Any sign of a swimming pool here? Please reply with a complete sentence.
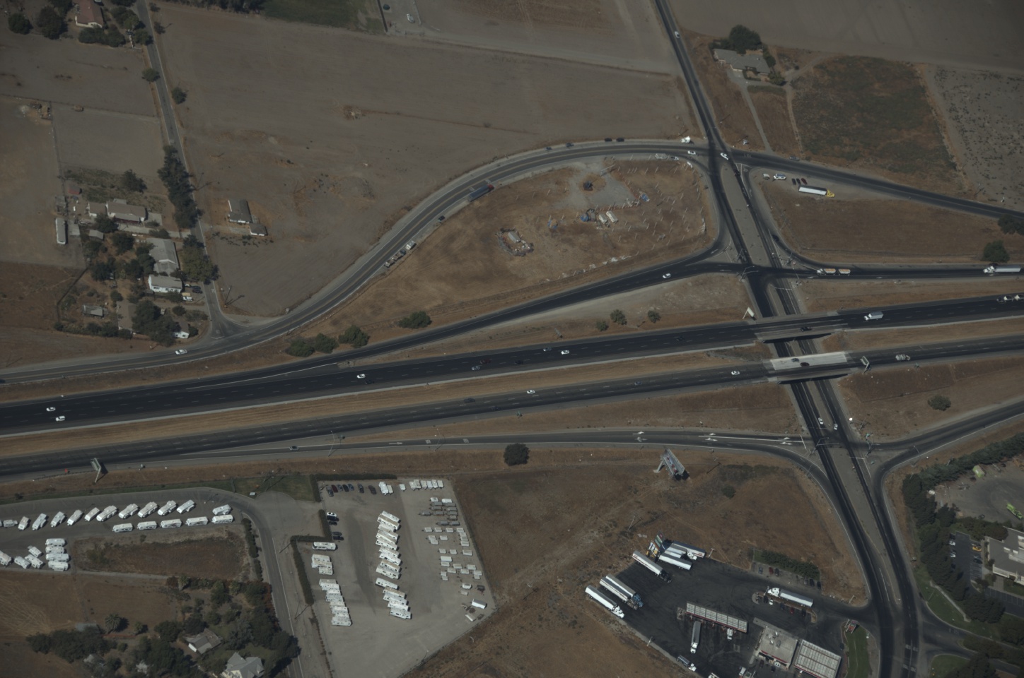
No, the scene contains no swimming pool.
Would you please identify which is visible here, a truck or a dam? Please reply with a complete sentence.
There is a truck in the scene.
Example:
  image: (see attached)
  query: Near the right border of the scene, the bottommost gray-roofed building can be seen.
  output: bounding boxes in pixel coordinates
[990,544,1024,592]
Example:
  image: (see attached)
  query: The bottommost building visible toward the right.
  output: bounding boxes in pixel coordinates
[757,627,806,674]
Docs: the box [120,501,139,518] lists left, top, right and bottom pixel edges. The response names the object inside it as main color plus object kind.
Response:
white camper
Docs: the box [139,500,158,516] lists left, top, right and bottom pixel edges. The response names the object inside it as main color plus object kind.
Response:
white camper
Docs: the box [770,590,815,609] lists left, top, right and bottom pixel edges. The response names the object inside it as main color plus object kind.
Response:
white vehicle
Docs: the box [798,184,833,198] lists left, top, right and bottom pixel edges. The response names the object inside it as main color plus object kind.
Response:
white vehicle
